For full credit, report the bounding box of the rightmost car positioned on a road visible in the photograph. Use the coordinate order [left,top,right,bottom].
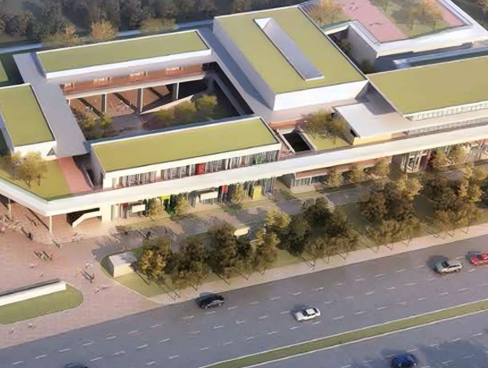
[468,250,488,264]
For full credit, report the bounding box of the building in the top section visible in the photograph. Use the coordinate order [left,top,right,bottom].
[0,0,488,232]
